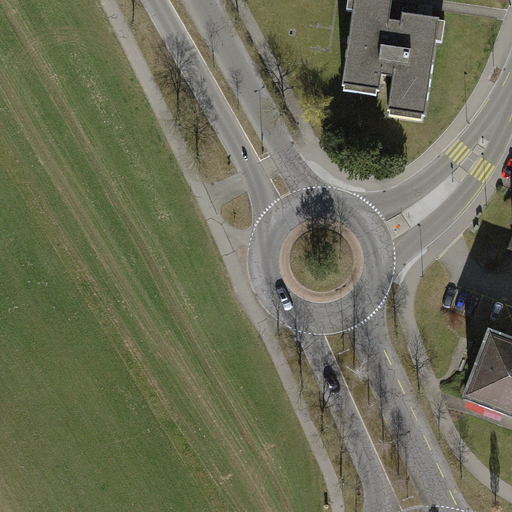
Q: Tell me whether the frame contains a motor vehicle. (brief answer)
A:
Yes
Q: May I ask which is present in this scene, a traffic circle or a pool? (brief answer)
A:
traffic circle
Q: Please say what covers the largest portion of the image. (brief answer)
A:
grass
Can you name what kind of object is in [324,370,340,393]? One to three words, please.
car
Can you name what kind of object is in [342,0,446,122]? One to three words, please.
building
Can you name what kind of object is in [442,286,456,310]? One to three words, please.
vehicle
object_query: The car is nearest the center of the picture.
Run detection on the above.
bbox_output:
[277,287,294,311]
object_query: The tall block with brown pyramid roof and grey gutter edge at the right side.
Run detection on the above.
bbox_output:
[463,329,512,421]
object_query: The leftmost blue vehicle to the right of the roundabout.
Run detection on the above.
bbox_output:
[455,290,468,311]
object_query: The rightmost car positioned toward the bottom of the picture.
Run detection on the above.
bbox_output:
[490,300,504,322]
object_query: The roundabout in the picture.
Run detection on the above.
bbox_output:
[248,186,396,336]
